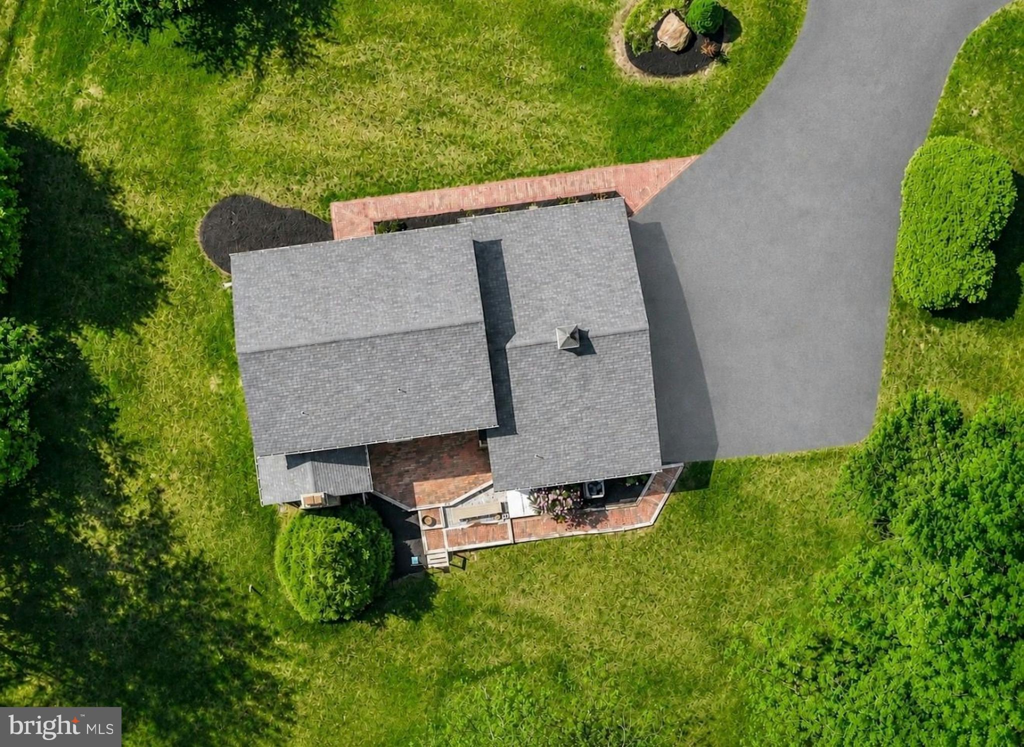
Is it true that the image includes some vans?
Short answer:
No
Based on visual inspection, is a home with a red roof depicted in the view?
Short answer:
No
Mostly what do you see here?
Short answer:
grass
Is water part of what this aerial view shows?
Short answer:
No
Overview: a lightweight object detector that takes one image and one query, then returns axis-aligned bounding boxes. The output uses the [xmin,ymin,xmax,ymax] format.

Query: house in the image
[225,195,662,508]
